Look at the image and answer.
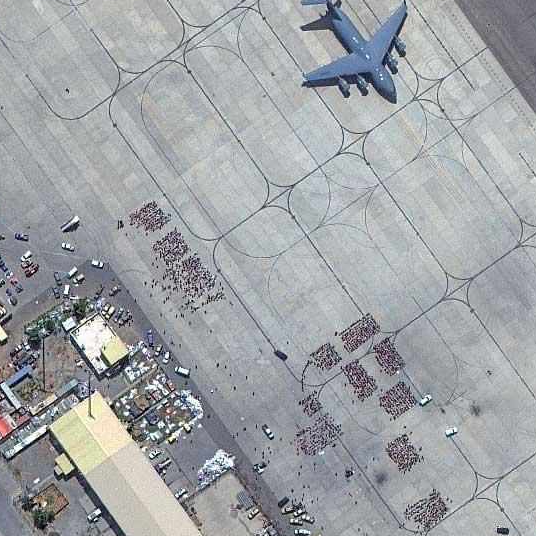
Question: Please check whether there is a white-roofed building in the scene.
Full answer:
Yes, a white-roofed building is visible in the scene.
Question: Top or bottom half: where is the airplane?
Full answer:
Seen from above, the airplane lies in the top half of the view.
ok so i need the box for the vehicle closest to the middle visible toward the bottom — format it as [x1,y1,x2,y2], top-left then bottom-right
[273,348,289,363]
